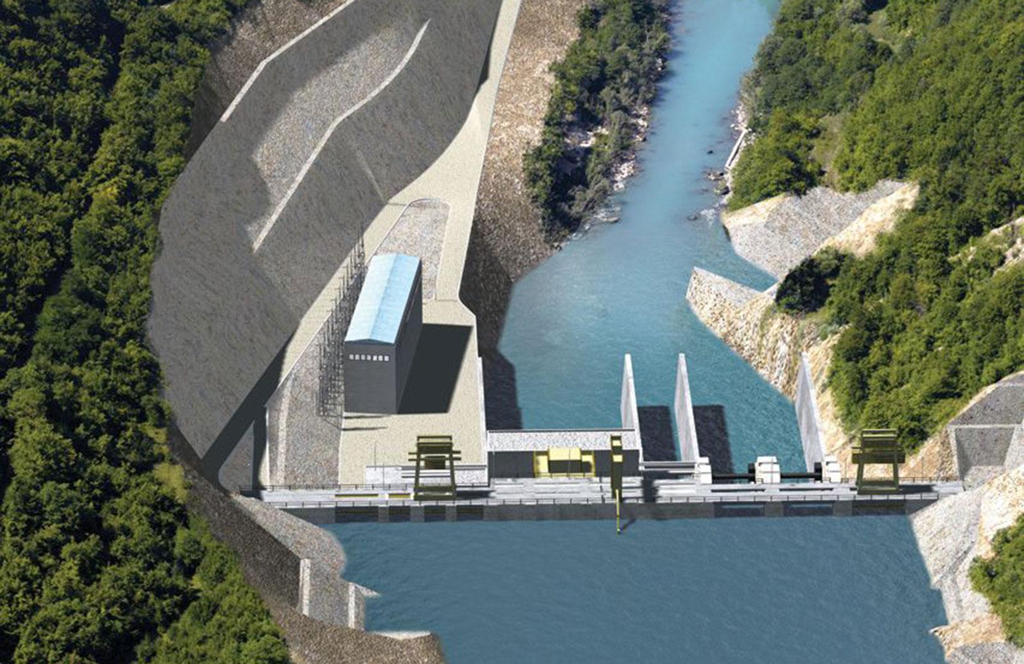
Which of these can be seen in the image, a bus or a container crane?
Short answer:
container crane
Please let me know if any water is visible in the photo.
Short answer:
Yes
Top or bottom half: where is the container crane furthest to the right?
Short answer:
bottom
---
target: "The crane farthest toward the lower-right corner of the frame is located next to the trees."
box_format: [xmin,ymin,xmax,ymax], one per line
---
[854,434,909,495]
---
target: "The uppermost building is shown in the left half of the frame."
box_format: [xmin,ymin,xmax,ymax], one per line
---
[340,256,423,415]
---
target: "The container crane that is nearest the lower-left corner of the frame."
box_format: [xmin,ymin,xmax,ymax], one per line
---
[408,436,460,499]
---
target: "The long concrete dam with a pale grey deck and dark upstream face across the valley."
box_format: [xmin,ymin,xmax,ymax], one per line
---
[257,474,956,521]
